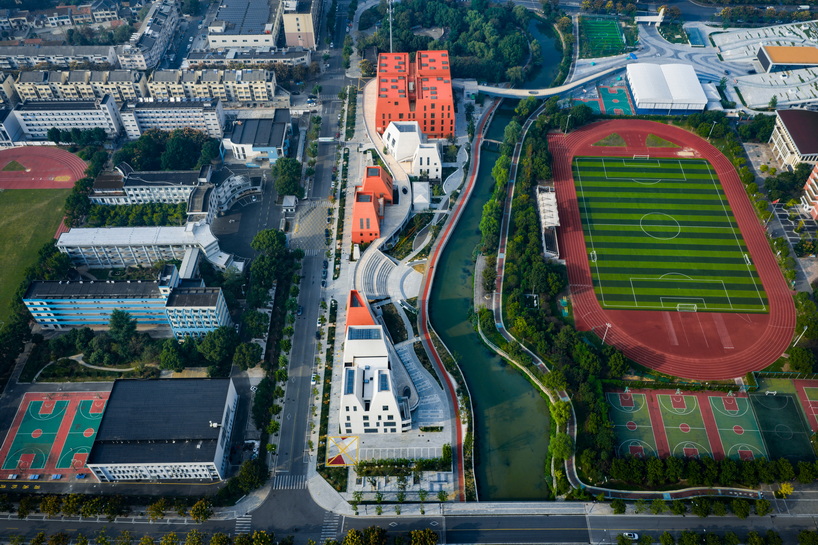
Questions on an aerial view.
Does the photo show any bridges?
Yes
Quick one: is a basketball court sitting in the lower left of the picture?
Yes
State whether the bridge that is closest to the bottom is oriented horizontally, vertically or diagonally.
horizontally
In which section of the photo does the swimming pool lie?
top right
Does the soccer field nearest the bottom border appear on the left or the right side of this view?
right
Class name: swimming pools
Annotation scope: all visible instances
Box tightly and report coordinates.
[685,26,706,46]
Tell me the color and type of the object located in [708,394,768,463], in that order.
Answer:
green basketball court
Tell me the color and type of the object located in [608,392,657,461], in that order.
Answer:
green basketball court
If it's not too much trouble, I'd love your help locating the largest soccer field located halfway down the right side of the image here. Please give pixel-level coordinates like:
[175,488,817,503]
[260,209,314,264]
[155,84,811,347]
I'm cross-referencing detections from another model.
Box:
[573,156,768,312]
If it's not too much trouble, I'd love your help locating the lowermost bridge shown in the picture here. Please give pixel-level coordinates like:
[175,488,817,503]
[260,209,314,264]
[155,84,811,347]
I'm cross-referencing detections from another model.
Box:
[441,500,590,544]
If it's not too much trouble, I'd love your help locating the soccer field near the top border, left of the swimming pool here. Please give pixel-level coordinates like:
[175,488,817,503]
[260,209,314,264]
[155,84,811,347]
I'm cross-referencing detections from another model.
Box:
[582,16,631,54]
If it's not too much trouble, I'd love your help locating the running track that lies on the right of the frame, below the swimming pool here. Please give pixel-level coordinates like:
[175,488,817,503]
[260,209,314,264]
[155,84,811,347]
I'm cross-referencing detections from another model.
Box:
[548,117,795,380]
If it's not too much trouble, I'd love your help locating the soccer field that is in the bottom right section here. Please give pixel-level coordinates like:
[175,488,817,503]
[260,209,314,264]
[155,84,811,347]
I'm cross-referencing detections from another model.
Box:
[749,392,816,464]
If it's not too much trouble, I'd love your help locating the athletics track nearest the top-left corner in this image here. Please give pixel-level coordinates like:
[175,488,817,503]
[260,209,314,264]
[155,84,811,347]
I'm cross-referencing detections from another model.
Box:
[0,148,89,376]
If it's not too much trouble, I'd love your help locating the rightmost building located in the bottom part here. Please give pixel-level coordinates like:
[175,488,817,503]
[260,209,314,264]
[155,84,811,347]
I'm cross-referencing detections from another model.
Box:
[339,291,415,433]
